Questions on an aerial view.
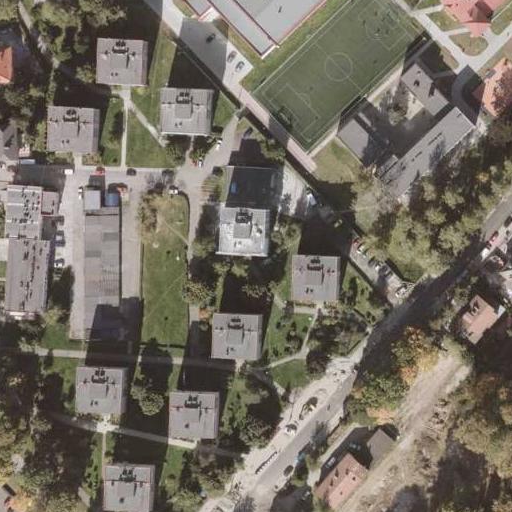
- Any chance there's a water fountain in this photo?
No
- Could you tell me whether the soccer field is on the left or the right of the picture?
right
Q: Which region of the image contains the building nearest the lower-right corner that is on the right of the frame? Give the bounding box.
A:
[358,427,397,466]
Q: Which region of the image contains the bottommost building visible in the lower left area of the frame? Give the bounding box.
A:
[103,465,155,512]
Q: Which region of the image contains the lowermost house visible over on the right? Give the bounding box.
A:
[313,451,370,509]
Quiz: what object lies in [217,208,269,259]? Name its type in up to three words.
building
